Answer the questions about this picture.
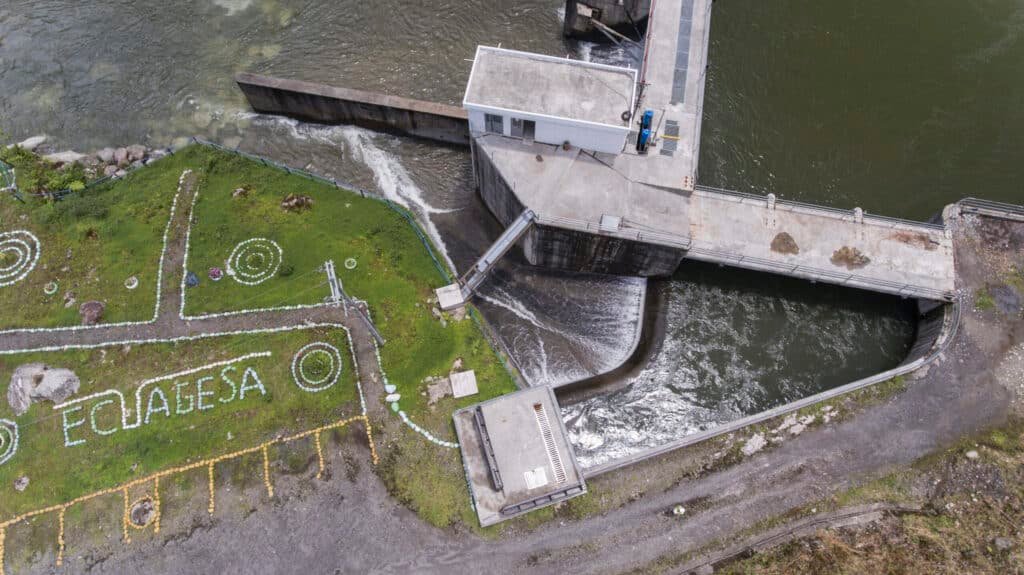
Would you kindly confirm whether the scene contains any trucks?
No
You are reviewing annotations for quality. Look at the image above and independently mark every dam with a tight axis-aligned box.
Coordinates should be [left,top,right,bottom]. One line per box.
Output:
[236,0,714,411]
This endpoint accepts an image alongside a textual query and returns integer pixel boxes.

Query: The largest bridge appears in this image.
[686,185,960,303]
